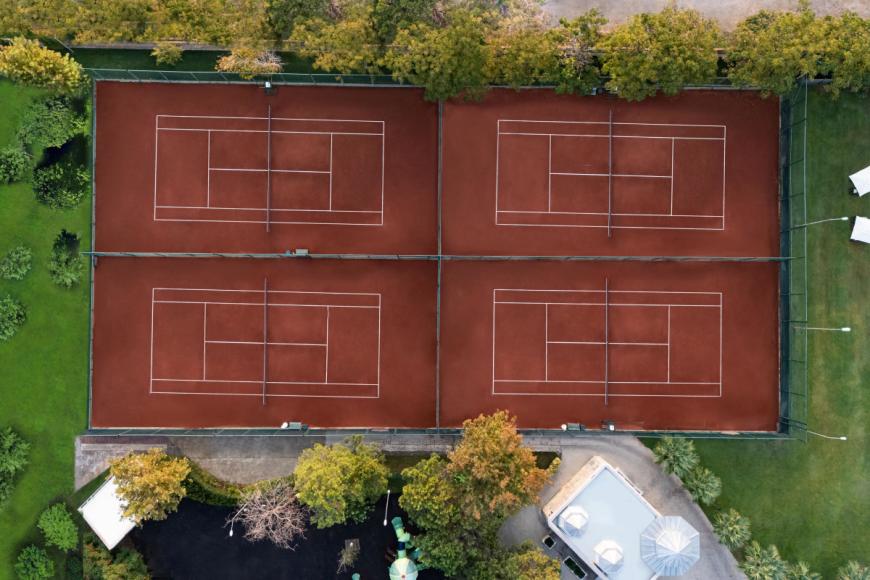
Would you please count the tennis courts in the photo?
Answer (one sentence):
Looking from above, you can make out 4 tennis courts.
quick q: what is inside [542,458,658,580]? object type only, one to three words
building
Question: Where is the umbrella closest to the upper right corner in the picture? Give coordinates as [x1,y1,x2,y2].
[845,164,870,198]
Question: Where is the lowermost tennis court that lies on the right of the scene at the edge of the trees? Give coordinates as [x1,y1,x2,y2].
[439,259,778,431]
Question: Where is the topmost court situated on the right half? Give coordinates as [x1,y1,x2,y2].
[442,87,779,258]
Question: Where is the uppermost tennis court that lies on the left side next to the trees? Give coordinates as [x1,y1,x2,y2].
[94,82,440,256]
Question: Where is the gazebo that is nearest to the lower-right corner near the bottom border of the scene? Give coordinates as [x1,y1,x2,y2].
[640,508,700,577]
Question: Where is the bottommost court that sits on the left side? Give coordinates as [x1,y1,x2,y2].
[93,259,440,429]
